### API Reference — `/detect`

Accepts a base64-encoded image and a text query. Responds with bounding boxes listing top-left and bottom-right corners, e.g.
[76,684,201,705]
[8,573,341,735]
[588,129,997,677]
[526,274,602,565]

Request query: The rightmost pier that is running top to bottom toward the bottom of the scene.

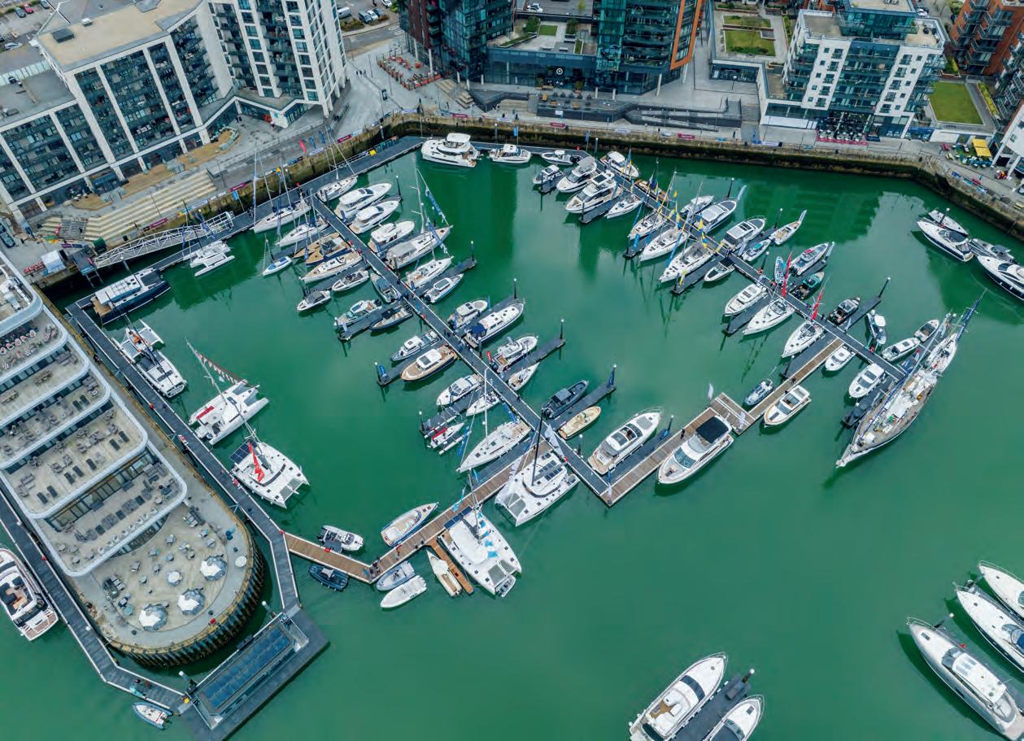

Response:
[270,533,299,607]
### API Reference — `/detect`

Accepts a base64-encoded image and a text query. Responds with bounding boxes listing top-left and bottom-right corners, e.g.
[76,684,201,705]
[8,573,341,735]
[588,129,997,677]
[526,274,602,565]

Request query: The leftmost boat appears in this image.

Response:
[0,540,58,643]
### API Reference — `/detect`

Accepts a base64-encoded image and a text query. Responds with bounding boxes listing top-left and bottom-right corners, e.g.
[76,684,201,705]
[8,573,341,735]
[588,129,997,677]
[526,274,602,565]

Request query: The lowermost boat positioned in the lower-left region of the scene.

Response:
[131,701,172,729]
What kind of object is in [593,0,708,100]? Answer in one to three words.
building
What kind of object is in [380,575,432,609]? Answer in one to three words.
boat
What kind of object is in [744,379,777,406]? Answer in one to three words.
boat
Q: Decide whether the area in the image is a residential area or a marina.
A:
marina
